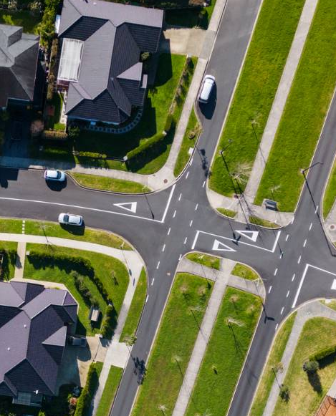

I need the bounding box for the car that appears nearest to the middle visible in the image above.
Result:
[57,214,85,226]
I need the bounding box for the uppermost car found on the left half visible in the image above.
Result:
[42,170,67,182]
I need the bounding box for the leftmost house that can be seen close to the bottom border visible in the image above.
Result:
[0,280,79,396]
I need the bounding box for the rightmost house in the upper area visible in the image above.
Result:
[57,0,165,126]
